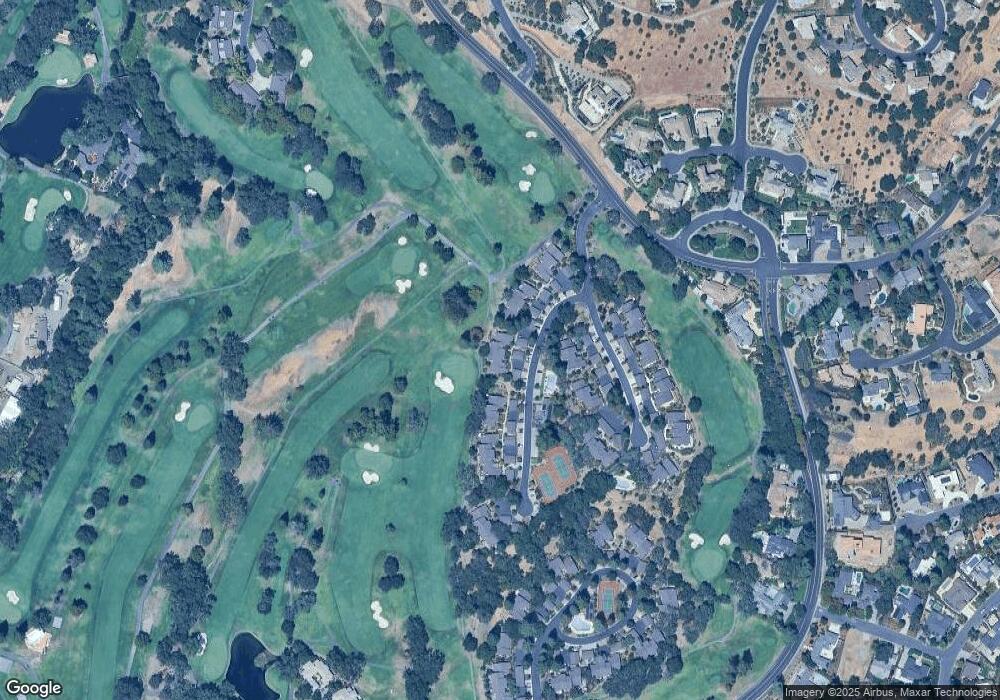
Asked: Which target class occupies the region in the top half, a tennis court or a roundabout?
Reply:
roundabout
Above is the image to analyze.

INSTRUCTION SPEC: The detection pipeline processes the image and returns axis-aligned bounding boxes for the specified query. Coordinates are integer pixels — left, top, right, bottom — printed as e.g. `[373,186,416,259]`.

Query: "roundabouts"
[673,204,775,277]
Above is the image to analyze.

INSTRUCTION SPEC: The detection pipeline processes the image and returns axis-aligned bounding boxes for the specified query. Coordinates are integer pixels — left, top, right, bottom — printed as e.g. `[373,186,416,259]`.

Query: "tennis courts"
[597,581,620,617]
[532,447,577,504]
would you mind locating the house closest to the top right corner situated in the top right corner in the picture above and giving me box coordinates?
[954,2,973,21]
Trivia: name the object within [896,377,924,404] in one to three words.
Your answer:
house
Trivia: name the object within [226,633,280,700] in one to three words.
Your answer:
pond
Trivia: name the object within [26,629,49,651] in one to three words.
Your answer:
shed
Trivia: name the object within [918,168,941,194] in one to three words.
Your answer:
house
